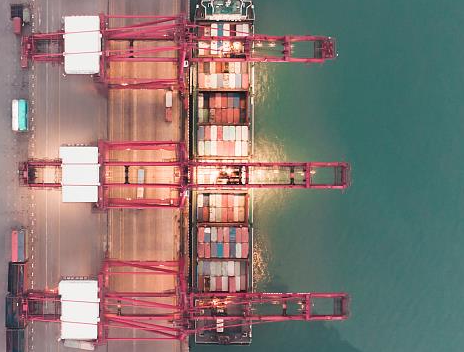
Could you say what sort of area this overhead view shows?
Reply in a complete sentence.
The area seen from above is a port.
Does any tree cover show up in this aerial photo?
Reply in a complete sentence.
No, the scene doesn't show any tree cover.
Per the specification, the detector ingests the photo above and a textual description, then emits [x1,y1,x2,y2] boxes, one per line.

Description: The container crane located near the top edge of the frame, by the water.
[20,15,340,106]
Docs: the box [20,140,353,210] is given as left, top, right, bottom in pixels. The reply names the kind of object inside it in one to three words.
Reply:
container crane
